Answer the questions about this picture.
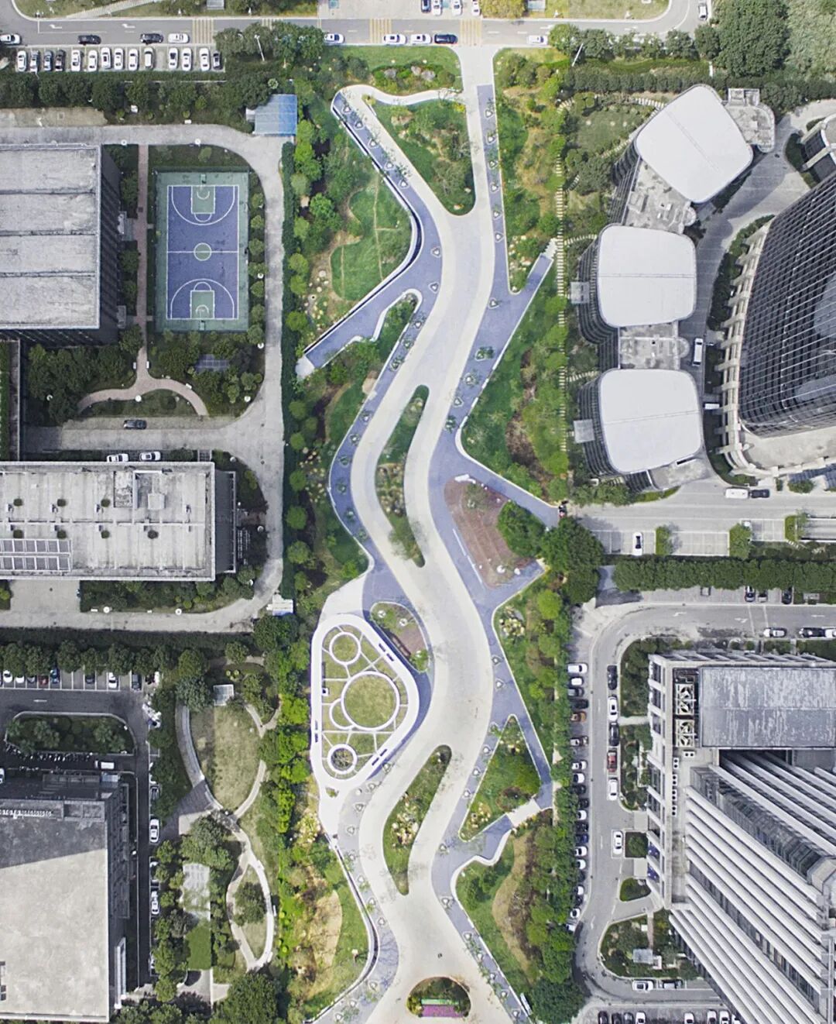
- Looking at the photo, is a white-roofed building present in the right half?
Yes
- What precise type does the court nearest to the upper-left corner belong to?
basketball court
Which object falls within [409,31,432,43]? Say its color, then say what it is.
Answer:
white vehicle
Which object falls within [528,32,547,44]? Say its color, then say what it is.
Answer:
white vehicle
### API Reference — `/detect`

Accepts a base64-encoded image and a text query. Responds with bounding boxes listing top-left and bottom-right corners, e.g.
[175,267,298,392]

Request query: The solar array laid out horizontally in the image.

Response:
[0,539,69,571]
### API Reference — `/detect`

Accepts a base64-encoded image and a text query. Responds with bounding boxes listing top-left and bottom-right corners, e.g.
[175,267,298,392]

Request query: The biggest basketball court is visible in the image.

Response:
[156,172,247,330]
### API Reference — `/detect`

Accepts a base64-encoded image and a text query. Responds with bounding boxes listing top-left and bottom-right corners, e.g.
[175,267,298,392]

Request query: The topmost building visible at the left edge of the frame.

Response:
[0,144,125,343]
